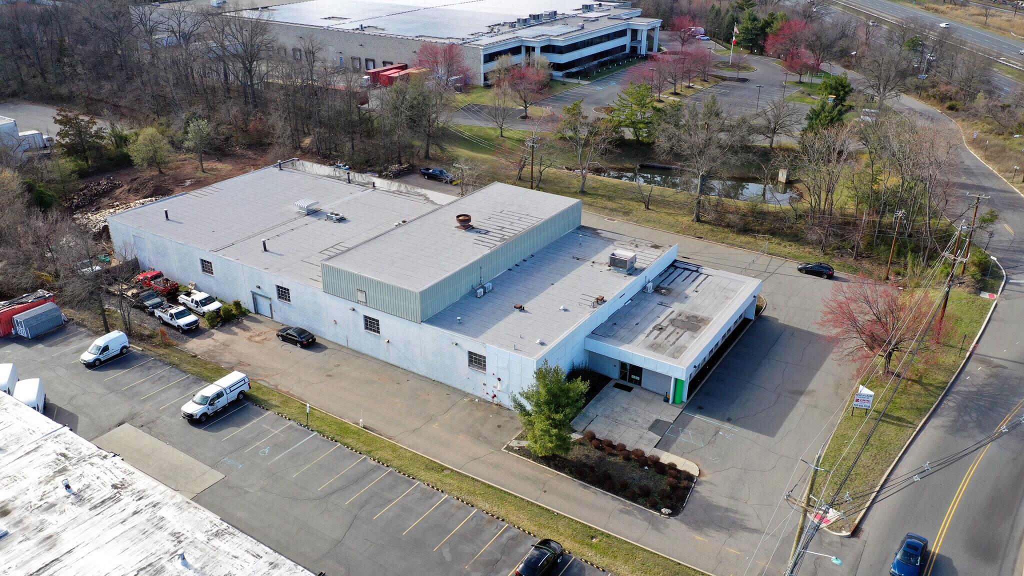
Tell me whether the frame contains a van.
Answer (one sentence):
Yes, there's a van here.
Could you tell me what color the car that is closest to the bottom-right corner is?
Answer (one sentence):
The car that is closest to the bottom-right corner is blue.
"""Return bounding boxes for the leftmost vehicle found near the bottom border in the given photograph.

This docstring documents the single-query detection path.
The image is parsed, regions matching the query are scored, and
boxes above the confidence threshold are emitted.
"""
[517,532,567,576]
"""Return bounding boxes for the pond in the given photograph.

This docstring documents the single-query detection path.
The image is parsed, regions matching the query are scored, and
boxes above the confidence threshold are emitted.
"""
[565,165,802,203]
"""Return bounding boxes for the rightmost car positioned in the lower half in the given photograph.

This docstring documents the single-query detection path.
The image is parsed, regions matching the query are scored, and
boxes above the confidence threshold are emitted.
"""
[888,531,930,576]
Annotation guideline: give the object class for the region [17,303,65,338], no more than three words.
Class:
shed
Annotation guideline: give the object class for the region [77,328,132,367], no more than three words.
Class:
van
